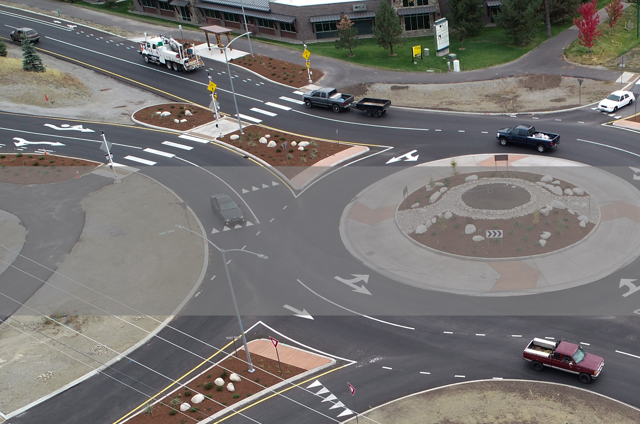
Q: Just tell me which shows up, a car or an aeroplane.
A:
car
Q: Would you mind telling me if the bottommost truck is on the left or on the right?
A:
right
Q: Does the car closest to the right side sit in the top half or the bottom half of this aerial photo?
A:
top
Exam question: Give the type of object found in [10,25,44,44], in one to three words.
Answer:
car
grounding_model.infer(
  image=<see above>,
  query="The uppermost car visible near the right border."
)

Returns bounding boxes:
[596,89,638,112]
